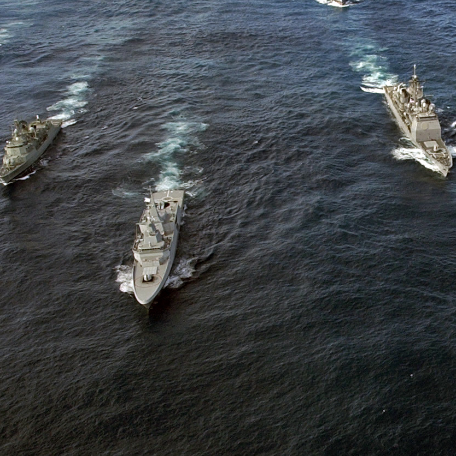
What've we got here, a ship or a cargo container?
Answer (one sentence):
I can see a ship in this picture.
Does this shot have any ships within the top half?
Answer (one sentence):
Yes, I can see a ship within the top half.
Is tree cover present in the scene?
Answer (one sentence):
No, the picture contains no tree cover.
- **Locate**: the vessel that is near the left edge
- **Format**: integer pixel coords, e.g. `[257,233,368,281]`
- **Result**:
[0,117,66,185]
